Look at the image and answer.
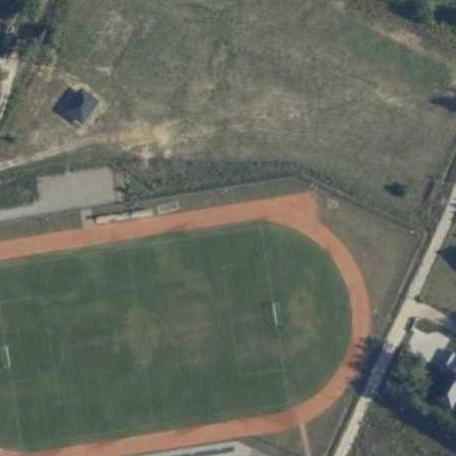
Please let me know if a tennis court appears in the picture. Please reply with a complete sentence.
No, no tennis court can be seen from above.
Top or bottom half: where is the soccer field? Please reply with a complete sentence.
It is in the bottom half that the soccer field appears.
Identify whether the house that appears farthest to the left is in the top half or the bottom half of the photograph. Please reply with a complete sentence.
Seen from above, the house that appears farthest to the left lies in the top half of the view.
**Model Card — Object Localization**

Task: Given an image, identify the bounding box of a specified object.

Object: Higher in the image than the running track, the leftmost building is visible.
[65,89,97,122]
